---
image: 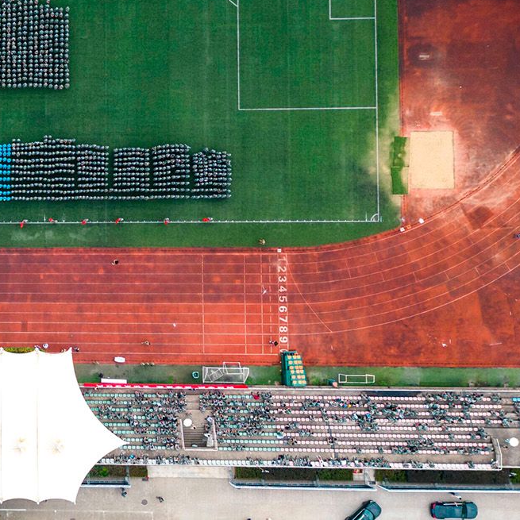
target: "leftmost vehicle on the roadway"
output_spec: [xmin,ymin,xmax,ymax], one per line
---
[339,496,377,520]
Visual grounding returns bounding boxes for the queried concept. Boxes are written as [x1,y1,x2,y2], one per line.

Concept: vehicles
[427,498,473,519]
[339,496,377,520]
